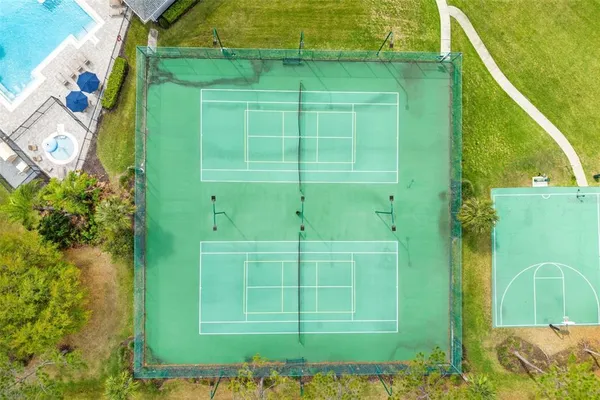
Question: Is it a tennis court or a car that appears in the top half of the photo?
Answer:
tennis court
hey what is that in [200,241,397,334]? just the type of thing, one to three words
tennis court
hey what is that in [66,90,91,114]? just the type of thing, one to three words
umbrella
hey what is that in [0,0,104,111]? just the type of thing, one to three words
swimming pool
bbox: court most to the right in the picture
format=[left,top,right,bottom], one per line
[492,187,600,328]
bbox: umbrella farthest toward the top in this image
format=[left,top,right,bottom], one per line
[76,70,102,94]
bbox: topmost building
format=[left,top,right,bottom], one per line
[121,0,179,30]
